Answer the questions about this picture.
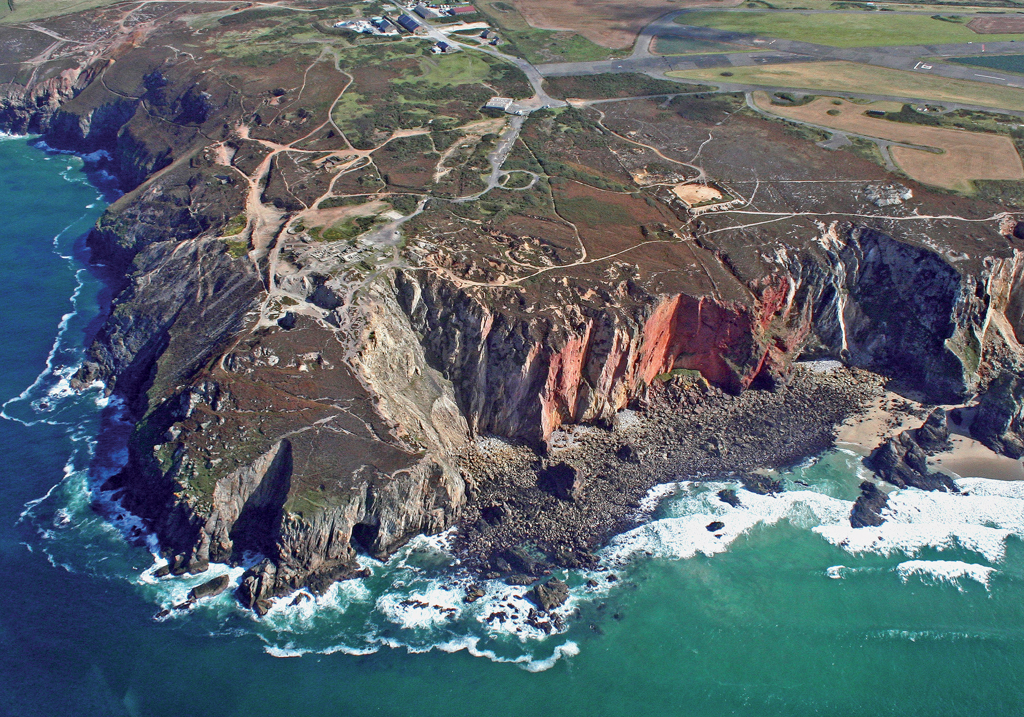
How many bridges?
0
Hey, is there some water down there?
Yes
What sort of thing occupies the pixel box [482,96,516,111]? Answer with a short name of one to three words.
hangar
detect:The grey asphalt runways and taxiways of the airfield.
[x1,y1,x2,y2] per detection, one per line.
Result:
[534,7,1024,117]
